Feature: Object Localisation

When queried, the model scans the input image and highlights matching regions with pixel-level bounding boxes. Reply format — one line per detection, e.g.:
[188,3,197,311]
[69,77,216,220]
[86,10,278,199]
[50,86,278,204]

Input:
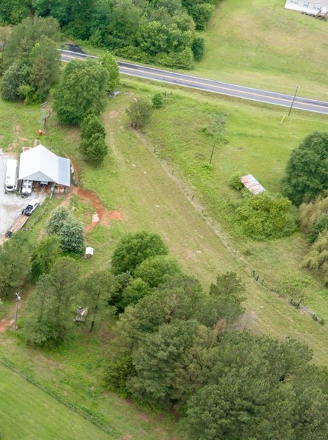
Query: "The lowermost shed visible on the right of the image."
[238,175,267,201]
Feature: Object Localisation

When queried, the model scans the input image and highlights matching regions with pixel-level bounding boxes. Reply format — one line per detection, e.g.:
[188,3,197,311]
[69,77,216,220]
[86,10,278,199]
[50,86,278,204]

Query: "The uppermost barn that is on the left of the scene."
[18,142,73,197]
